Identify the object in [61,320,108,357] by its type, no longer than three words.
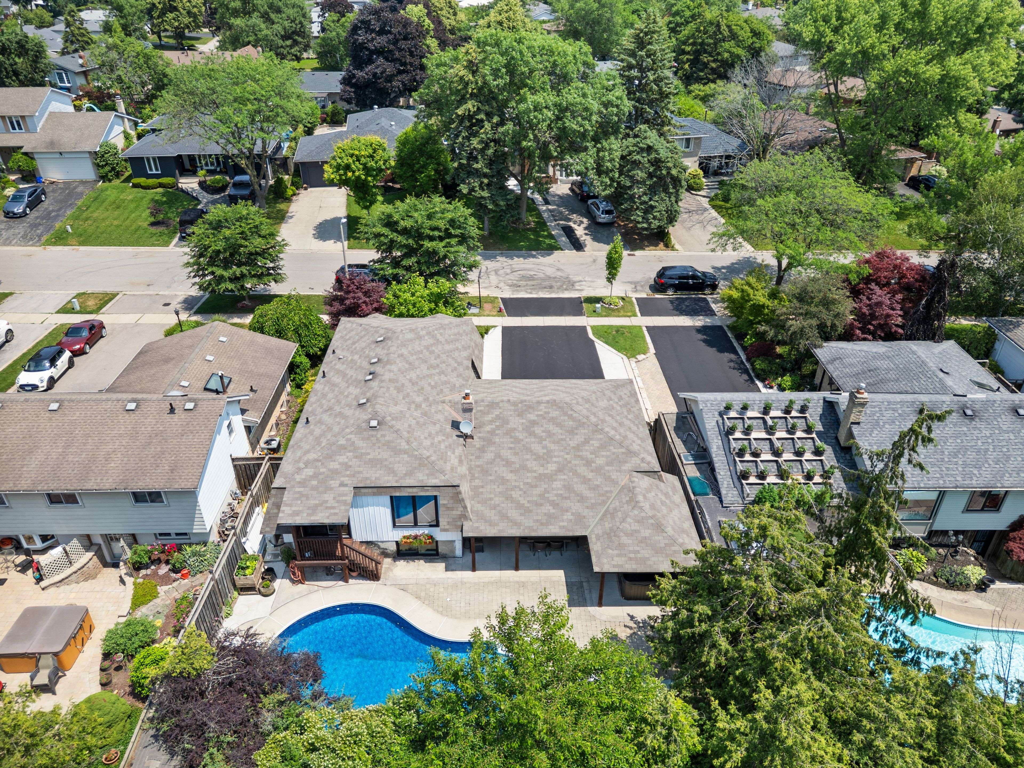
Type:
car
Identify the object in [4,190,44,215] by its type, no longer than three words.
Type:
car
